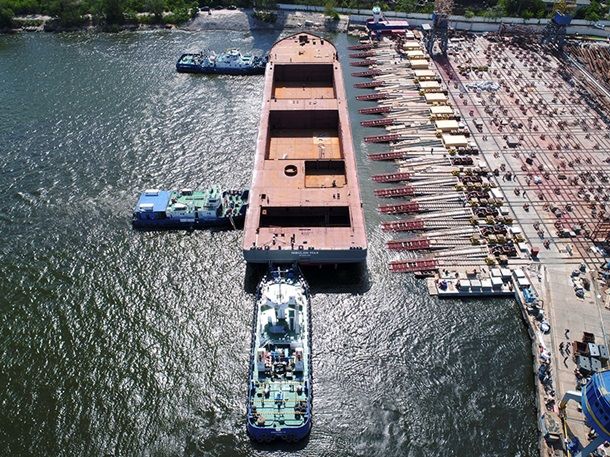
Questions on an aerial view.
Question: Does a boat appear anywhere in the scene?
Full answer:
Yes, a boat can be made out from above.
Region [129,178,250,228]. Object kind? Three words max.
boat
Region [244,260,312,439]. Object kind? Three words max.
boat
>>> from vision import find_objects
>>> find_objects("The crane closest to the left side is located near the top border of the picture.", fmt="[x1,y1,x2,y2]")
[426,0,458,58]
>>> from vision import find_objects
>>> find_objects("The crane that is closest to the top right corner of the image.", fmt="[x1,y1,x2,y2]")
[529,0,571,57]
